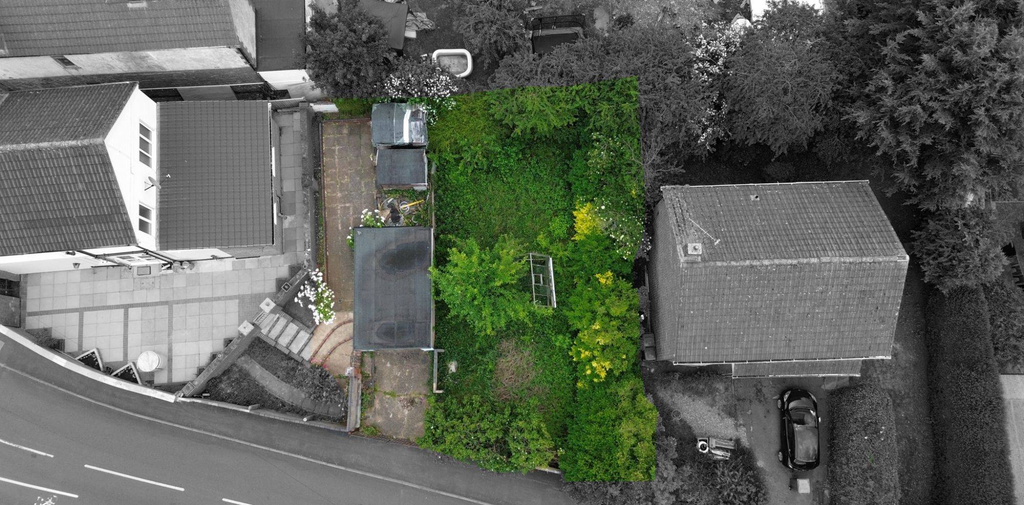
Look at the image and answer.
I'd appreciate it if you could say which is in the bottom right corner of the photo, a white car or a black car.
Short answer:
black car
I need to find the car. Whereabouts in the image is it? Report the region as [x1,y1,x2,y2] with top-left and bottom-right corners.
[776,388,826,475]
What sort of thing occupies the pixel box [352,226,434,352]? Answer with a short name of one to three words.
building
